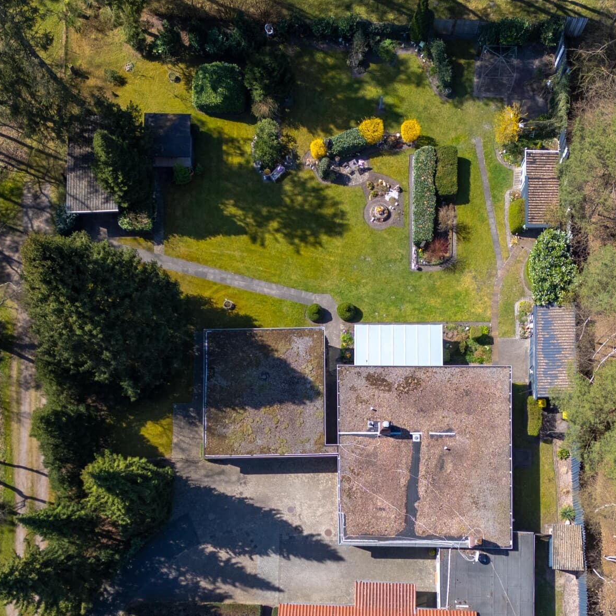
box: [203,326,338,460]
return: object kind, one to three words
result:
building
